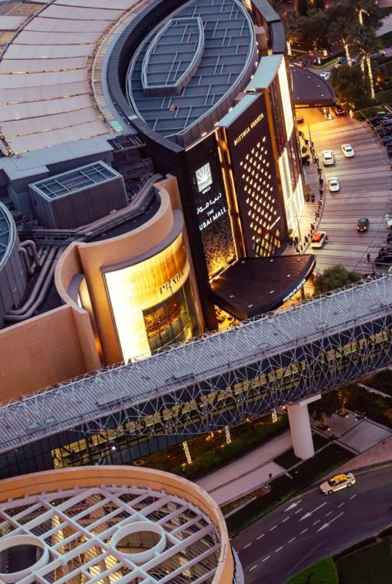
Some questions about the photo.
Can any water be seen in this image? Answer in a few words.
No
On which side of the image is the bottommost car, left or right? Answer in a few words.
right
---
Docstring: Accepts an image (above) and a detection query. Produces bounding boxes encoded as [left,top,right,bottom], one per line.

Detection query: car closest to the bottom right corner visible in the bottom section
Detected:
[319,472,357,495]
